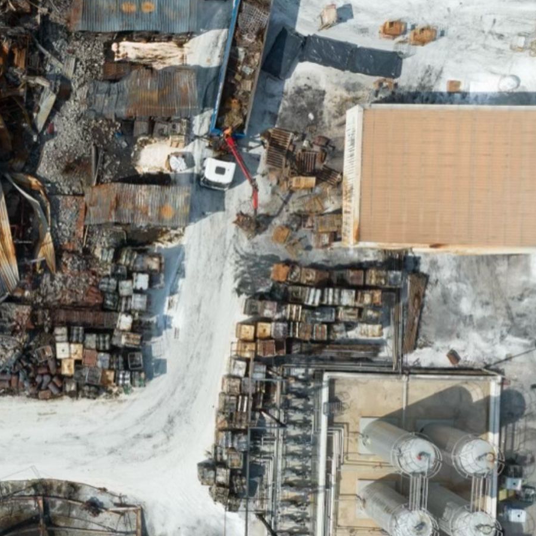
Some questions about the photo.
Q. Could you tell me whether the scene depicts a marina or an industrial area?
industrial area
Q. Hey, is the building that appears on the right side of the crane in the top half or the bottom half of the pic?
top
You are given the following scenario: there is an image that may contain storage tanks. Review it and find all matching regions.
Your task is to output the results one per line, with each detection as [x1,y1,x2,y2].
[356,481,442,536]
[412,417,506,481]
[412,481,505,536]
[357,417,444,481]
